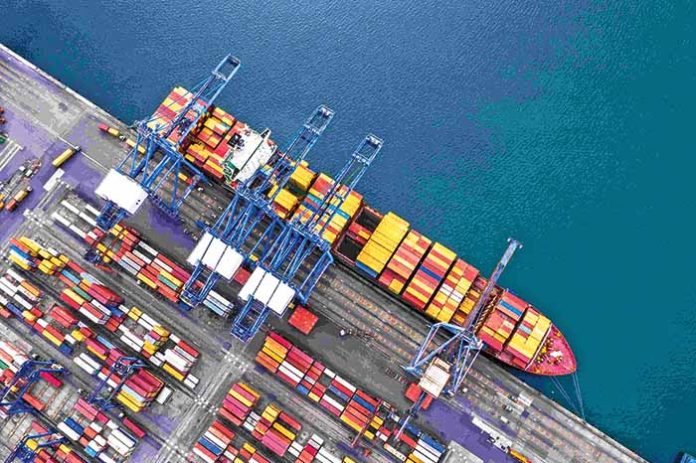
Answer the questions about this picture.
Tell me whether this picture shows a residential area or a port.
port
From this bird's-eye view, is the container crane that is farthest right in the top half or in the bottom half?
bottom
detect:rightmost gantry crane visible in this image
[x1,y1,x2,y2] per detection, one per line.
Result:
[392,238,523,453]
